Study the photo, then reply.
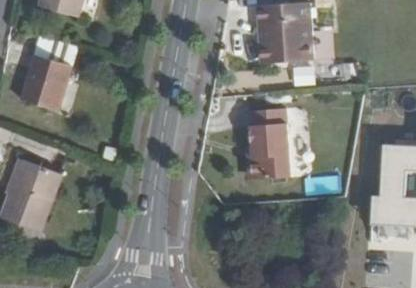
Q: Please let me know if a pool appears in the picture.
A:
Yes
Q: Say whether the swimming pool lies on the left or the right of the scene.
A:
right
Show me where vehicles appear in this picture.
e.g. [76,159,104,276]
[232,34,242,56]
[366,262,389,273]
[366,250,388,261]
[138,194,150,216]
[171,79,183,99]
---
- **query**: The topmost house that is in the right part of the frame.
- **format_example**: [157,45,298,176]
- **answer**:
[256,2,315,64]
